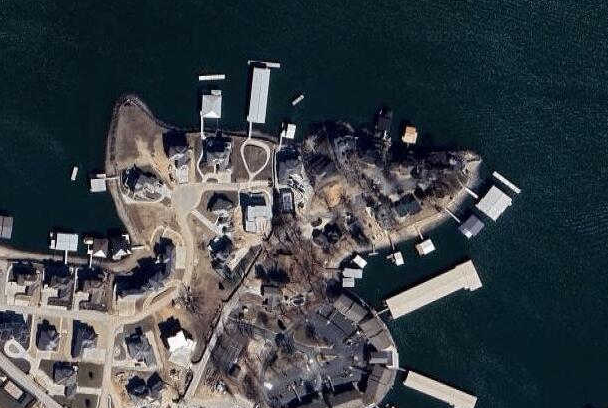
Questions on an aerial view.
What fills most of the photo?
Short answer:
water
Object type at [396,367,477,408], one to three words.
pier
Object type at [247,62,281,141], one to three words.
pier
